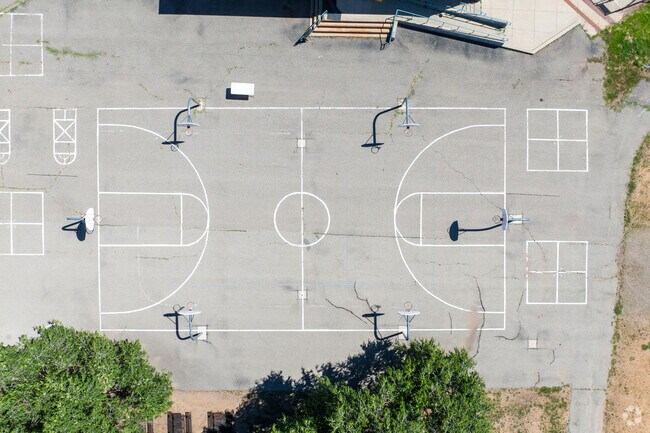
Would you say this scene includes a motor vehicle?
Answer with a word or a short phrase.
No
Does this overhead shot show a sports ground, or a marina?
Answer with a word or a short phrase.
sports ground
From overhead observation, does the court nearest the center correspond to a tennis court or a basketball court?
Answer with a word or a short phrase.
basketball court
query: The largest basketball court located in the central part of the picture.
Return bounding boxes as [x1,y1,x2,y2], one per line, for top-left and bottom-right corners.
[97,107,506,331]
